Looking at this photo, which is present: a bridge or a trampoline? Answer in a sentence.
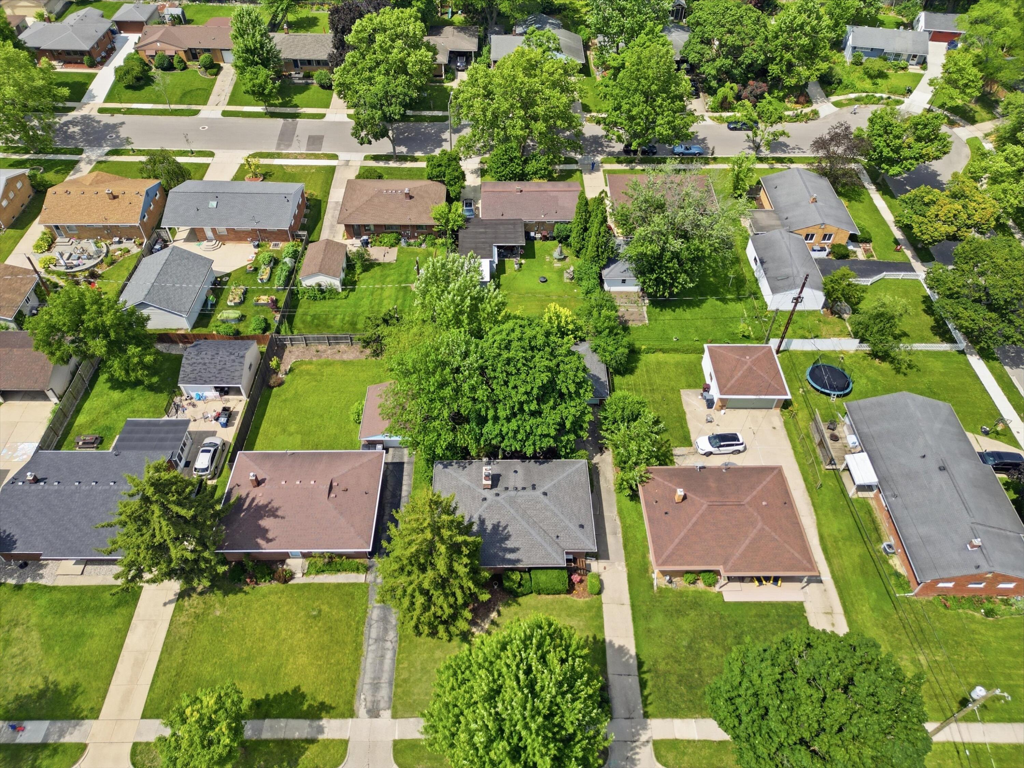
Visible in the photo is a trampoline.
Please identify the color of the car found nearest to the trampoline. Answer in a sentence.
From above, the car found nearest to the trampoline appears white.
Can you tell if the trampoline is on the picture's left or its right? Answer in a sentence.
It is on the right.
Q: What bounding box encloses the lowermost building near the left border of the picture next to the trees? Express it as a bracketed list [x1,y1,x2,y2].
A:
[0,418,197,570]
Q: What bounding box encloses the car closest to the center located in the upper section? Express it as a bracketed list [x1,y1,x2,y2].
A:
[461,198,479,219]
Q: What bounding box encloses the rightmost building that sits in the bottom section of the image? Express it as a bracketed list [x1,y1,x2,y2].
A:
[834,394,1024,598]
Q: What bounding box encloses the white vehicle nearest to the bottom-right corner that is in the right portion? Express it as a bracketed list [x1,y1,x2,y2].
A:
[692,428,749,457]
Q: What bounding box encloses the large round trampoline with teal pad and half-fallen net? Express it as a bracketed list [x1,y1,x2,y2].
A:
[803,351,856,406]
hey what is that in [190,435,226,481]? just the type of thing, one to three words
car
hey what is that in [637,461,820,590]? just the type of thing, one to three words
house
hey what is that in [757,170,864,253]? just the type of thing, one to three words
house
